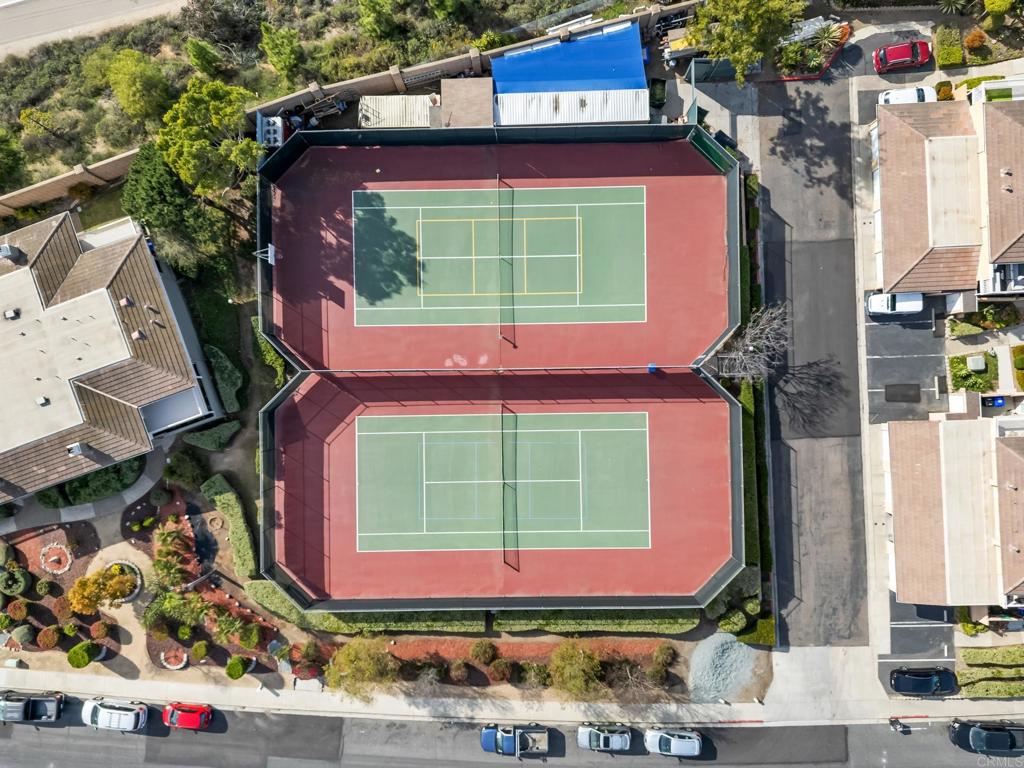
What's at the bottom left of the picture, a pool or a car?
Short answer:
car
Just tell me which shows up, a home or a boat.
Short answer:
home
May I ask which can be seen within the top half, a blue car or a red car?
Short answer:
red car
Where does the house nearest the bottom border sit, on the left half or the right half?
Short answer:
right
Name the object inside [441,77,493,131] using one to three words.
shed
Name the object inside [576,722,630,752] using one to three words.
car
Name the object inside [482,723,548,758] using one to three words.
truck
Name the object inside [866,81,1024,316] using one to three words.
house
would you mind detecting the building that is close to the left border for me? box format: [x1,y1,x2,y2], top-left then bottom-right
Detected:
[0,211,235,504]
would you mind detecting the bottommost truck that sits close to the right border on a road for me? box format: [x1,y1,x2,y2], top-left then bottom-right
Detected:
[945,718,1024,757]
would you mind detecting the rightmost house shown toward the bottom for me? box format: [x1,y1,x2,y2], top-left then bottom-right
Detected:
[877,416,1024,626]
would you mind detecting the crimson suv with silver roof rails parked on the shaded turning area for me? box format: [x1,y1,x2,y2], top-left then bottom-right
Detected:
[869,38,929,75]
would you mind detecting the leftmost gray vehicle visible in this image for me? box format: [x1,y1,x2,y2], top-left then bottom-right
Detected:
[0,690,69,723]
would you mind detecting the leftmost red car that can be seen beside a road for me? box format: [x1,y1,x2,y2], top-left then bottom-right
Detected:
[165,700,215,730]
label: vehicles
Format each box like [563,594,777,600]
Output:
[165,700,215,730]
[576,722,630,752]
[869,38,929,75]
[482,723,548,758]
[85,696,150,731]
[945,718,1024,757]
[644,725,702,758]
[890,666,954,699]
[875,81,937,105]
[0,690,69,723]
